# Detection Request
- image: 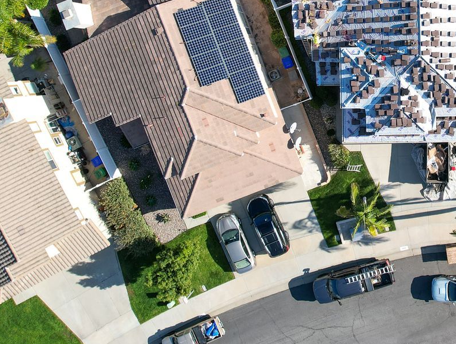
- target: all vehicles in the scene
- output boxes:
[312,256,399,302]
[250,193,290,259]
[162,312,230,344]
[431,273,456,307]
[216,210,256,274]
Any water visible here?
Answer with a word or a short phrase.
No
